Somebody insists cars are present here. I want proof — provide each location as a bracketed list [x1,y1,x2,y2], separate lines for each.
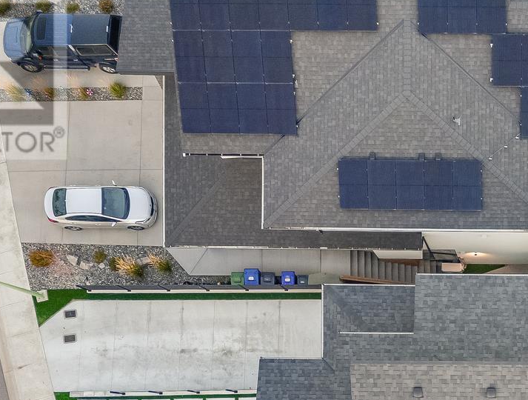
[3,9,122,76]
[45,173,159,231]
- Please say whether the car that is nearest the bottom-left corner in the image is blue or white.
white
